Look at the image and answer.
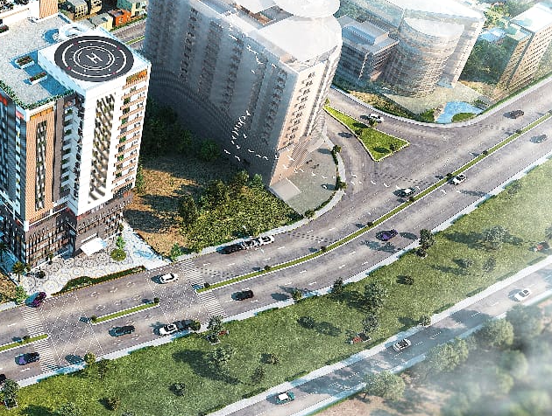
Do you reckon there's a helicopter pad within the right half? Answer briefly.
No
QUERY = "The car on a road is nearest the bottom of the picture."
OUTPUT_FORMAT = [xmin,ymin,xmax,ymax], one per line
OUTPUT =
[274,391,295,405]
